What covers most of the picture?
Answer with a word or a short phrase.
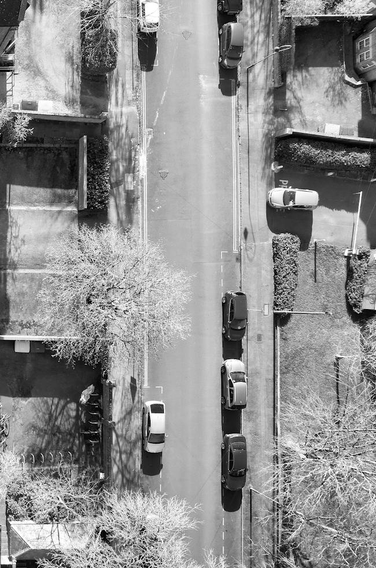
paved ground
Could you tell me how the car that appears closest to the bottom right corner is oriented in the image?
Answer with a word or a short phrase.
from top to bottom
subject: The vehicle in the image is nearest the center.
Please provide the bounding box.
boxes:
[221,293,249,340]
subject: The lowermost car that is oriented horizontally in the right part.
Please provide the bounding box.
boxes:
[266,187,321,212]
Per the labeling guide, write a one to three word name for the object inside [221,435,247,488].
car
